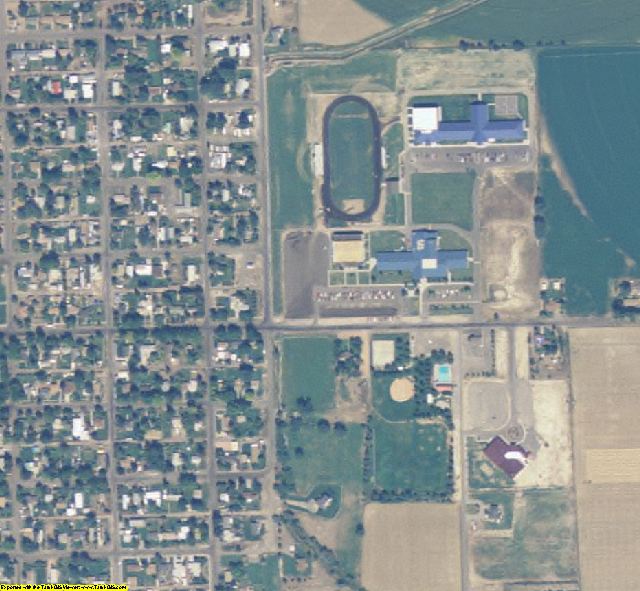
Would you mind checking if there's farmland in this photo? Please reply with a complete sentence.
Yes, some farmland is visible.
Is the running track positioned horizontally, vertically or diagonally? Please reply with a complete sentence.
The running track is laid out vertically.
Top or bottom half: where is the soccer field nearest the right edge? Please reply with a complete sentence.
The soccer field nearest the right edge is in the bottom half of the image.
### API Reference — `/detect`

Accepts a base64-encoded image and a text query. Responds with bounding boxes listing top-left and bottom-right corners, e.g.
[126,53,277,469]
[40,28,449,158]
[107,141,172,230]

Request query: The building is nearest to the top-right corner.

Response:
[412,101,528,147]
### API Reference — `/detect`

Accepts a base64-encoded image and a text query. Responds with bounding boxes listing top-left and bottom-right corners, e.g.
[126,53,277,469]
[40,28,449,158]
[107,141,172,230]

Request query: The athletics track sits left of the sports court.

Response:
[322,96,381,222]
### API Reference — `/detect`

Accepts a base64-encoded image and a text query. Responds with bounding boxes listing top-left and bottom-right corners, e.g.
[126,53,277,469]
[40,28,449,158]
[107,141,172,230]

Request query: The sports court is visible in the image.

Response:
[495,95,519,116]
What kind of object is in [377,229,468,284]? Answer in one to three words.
building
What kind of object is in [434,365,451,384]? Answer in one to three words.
swimming pool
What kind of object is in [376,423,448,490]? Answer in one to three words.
soccer field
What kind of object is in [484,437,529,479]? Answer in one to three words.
building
